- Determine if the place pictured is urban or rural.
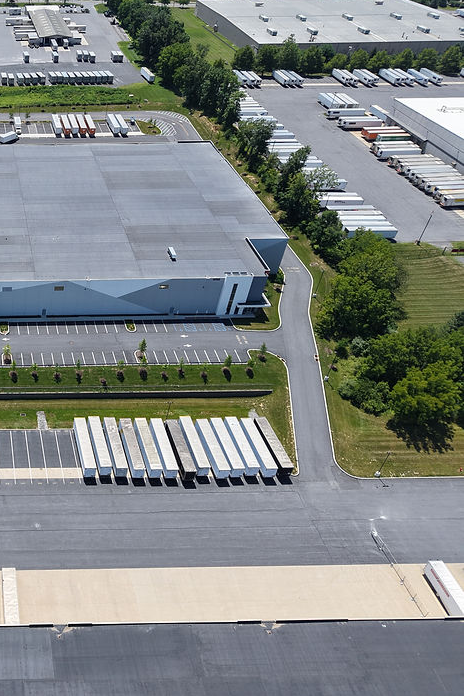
urban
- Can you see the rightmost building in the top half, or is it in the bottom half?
top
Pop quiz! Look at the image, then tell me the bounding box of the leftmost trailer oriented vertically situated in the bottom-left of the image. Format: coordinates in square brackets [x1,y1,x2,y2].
[2,568,21,624]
